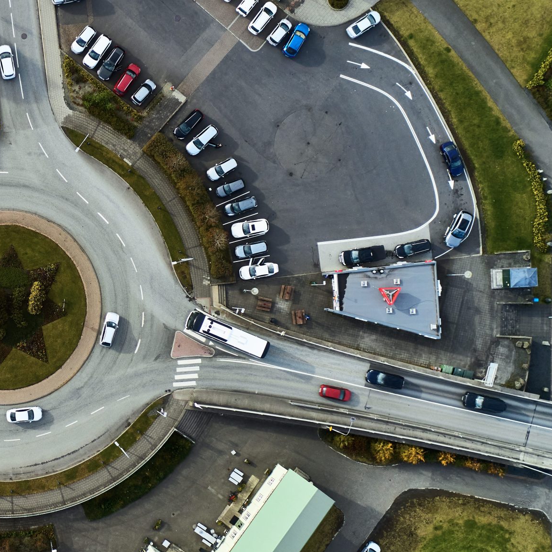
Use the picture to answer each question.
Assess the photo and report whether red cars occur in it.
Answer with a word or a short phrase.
Yes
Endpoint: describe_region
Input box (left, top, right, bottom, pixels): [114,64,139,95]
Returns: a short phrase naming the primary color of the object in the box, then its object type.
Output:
red car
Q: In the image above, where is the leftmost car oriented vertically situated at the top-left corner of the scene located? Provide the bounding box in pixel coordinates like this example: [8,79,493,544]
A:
[0,46,14,79]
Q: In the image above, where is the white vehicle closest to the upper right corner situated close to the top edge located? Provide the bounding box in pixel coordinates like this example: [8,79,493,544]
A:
[346,11,379,38]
